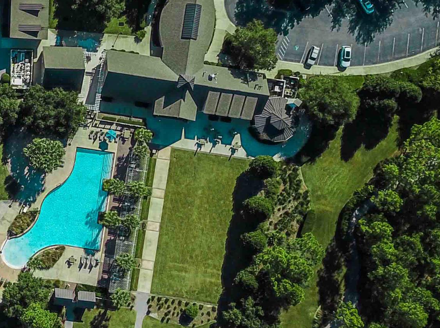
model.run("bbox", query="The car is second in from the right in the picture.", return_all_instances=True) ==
[341,44,354,68]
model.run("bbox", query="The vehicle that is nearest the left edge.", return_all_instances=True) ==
[306,45,322,67]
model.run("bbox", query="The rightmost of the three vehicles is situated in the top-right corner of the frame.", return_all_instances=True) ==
[358,0,376,14]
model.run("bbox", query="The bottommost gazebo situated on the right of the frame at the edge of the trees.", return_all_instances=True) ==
[255,99,305,143]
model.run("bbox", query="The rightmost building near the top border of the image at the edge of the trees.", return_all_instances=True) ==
[100,0,274,121]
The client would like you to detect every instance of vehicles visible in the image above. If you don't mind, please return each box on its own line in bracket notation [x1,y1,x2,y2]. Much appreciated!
[341,44,354,68]
[358,0,376,14]
[306,45,322,67]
